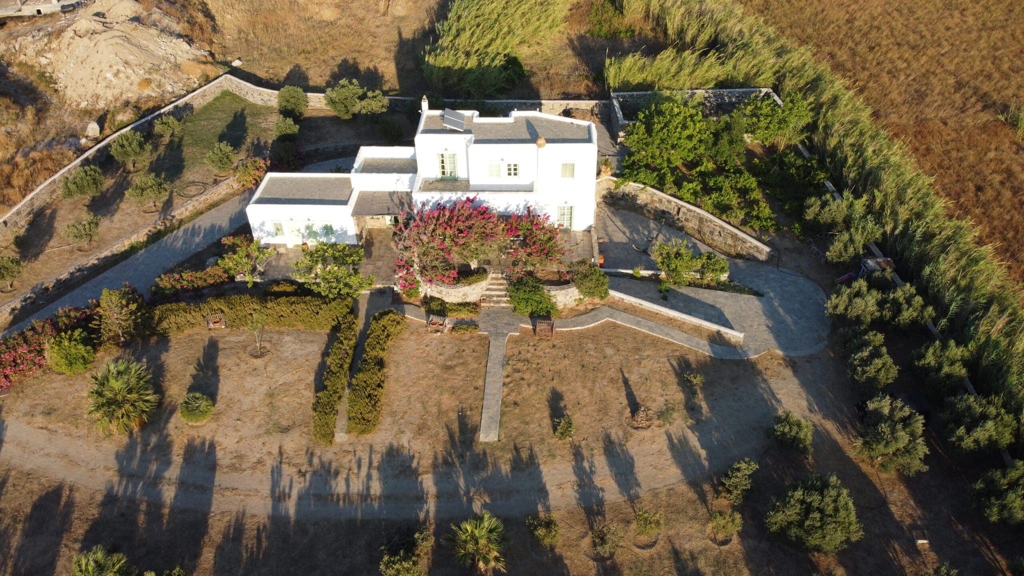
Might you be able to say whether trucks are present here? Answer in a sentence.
No, I can see no truck in this picture.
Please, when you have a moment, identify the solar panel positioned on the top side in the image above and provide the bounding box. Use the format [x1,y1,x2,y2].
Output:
[444,109,465,132]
